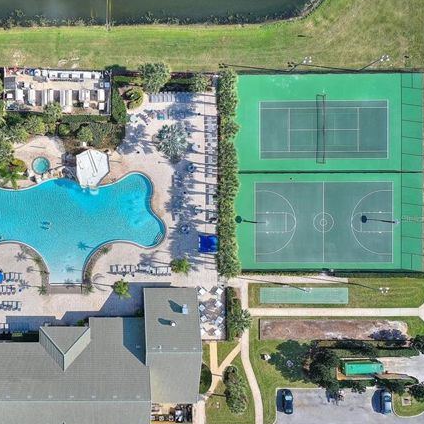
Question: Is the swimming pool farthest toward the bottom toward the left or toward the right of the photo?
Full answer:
The swimming pool farthest toward the bottom is on the left side of the image.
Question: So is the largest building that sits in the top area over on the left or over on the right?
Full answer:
The largest building that sits in the top area appears in the left half of the scene.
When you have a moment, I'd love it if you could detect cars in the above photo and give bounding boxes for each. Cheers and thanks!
[379,390,393,414]
[282,388,295,414]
